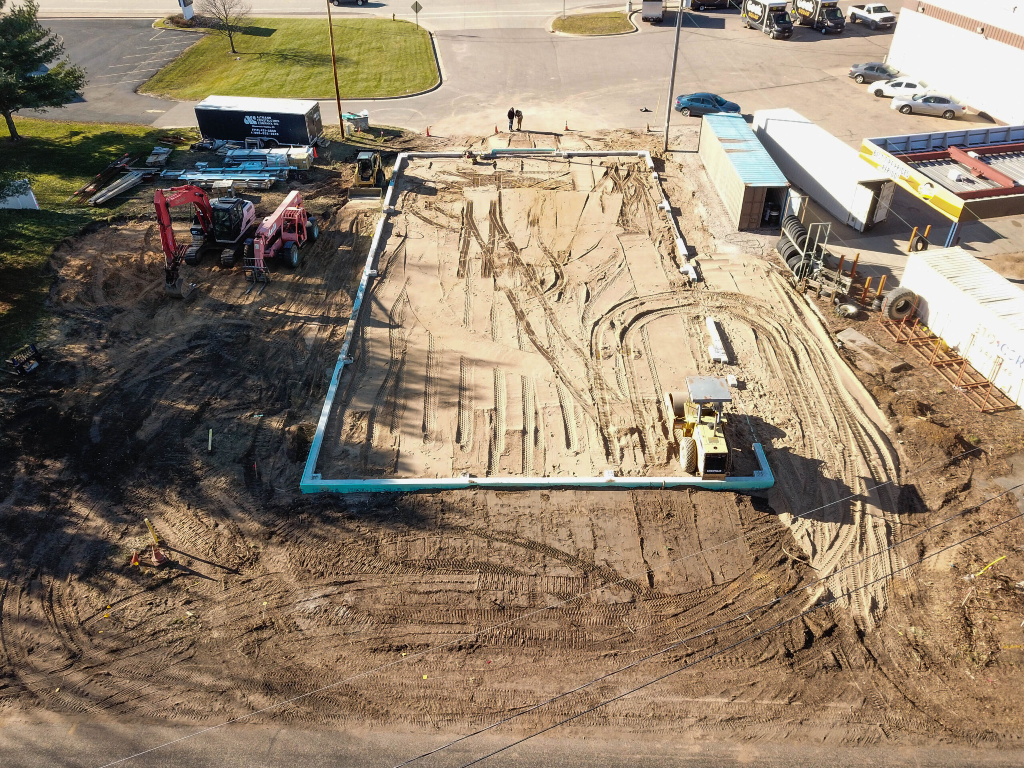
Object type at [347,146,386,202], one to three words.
work vehicle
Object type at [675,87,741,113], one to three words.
car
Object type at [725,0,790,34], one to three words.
van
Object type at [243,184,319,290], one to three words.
work vehicle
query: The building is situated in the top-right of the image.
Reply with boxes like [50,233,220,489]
[887,0,1024,124]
